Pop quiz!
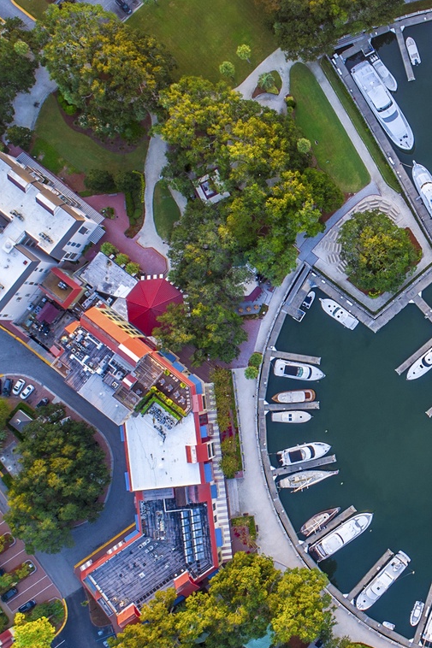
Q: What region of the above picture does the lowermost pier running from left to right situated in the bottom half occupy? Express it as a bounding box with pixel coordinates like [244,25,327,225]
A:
[271,454,338,480]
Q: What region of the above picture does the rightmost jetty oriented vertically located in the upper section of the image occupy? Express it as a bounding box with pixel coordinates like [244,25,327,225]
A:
[391,25,415,82]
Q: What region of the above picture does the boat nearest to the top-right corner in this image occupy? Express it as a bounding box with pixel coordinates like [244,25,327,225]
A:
[407,36,420,65]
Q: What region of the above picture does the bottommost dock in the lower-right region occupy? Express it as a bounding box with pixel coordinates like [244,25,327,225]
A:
[409,584,432,648]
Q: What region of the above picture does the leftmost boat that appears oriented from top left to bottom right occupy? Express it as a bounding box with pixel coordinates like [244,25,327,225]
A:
[317,298,359,330]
